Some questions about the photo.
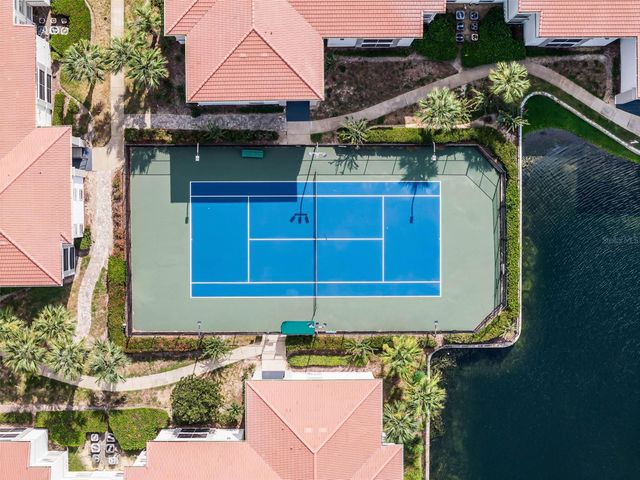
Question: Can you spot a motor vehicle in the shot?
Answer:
No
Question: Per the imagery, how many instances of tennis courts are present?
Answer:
1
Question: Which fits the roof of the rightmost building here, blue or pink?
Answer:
pink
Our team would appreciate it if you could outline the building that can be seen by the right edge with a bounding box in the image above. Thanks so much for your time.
[506,0,640,118]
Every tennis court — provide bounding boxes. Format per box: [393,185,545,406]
[131,148,502,331]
